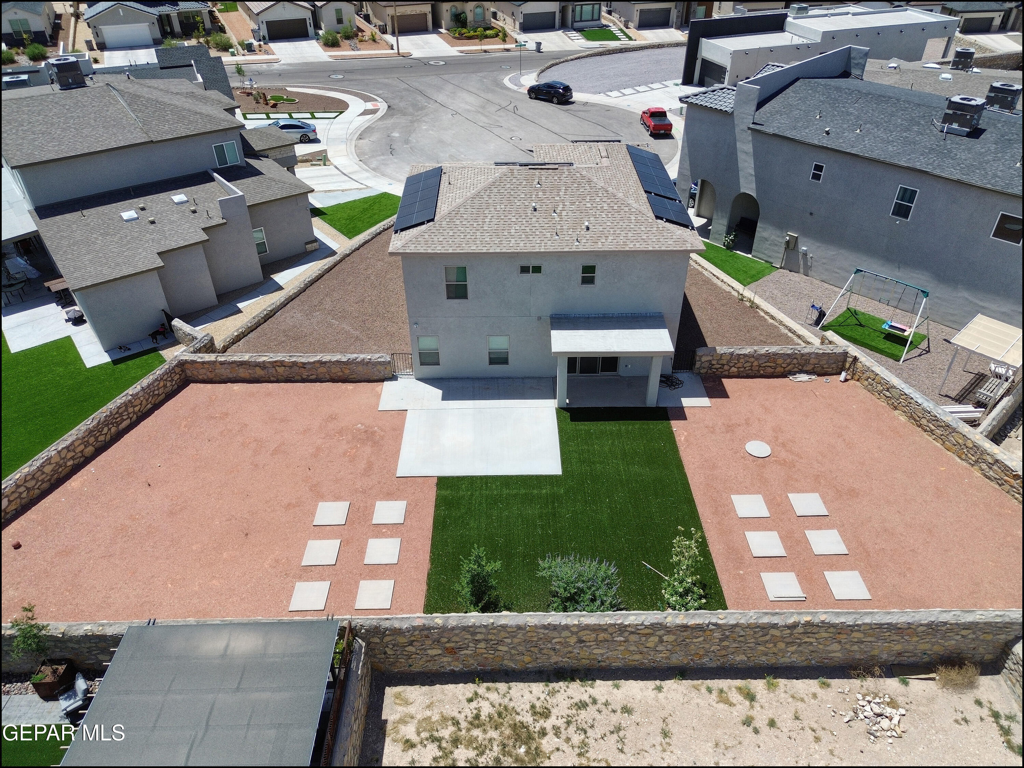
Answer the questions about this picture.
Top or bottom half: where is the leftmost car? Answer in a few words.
top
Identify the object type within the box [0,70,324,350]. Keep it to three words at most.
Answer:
house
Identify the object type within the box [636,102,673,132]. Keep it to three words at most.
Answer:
truck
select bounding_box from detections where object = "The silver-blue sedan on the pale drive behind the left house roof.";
[260,118,319,141]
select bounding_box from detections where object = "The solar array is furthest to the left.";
[393,167,443,233]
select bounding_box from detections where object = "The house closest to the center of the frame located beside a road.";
[387,138,707,407]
